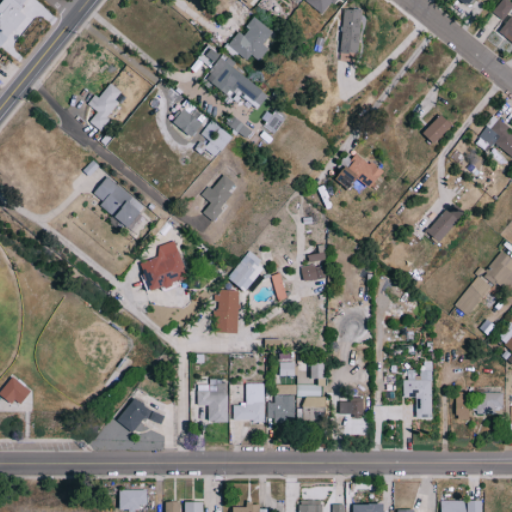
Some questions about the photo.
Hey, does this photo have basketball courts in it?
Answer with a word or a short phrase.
No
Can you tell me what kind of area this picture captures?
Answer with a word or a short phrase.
residential area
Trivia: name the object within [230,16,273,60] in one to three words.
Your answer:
house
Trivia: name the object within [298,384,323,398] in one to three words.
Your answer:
building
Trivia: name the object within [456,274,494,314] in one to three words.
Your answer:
barn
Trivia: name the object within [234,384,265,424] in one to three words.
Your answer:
house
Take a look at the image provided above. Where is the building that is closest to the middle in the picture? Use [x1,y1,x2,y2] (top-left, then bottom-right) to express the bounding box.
[228,250,265,290]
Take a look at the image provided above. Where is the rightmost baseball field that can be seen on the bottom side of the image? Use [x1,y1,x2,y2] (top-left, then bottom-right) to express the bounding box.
[34,297,131,406]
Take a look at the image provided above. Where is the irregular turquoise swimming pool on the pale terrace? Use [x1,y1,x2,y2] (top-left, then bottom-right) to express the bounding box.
[252,286,274,302]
